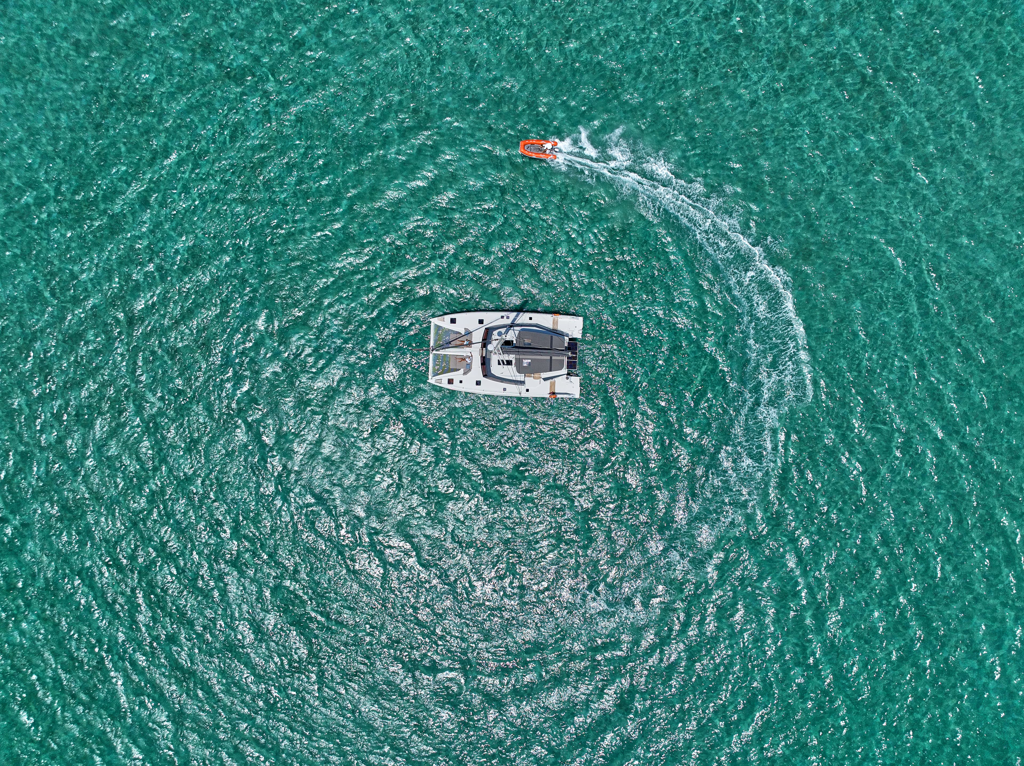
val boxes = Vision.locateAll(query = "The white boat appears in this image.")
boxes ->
[410,311,583,398]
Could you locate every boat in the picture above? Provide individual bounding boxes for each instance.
[520,139,560,159]
[410,311,583,398]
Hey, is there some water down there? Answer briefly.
Yes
